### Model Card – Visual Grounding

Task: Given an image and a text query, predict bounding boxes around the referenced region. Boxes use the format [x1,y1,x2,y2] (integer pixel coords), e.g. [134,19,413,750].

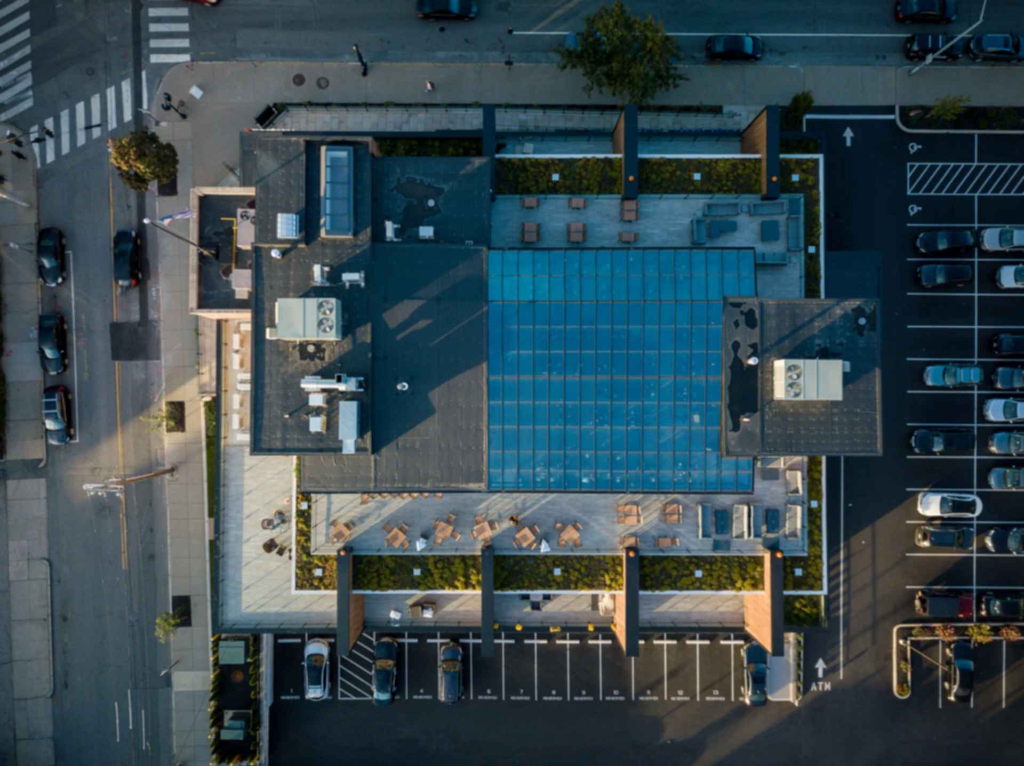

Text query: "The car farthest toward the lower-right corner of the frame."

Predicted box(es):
[945,641,977,702]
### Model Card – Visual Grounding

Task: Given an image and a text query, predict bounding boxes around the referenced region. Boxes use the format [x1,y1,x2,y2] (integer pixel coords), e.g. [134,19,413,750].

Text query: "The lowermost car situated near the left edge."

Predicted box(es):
[43,387,75,443]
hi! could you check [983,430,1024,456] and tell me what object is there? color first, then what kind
blue car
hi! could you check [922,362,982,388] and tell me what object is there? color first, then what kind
blue car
